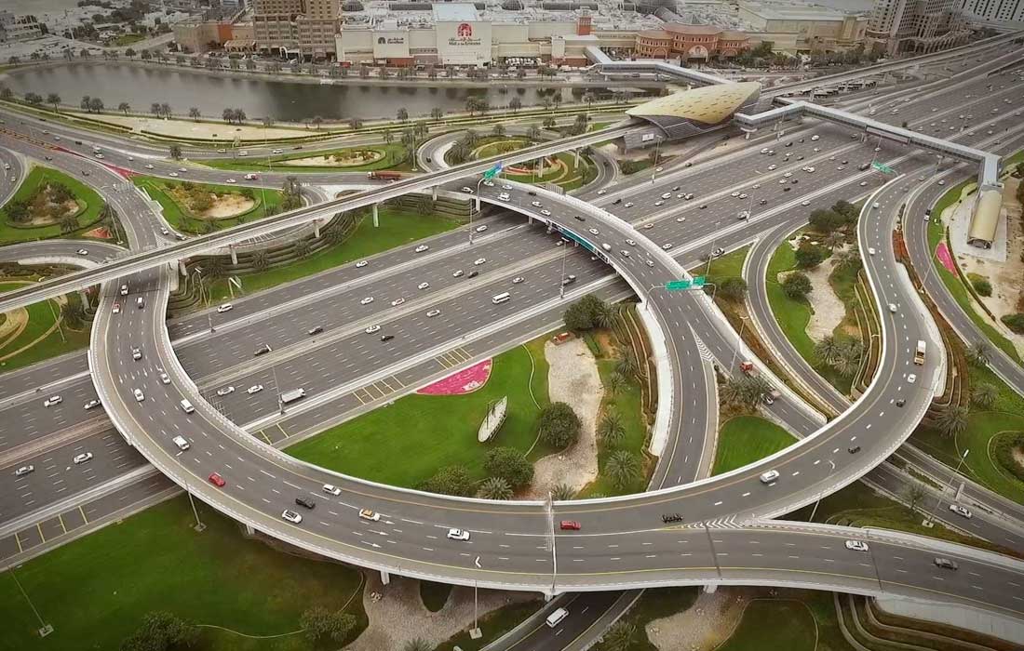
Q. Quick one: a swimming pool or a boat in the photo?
boat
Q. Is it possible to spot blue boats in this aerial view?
No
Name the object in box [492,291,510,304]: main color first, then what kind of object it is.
white vehicle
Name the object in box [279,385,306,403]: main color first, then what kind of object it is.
white vehicle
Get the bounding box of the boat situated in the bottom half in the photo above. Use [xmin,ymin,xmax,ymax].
[477,398,506,446]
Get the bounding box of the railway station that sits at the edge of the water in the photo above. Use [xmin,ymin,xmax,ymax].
[607,81,760,151]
